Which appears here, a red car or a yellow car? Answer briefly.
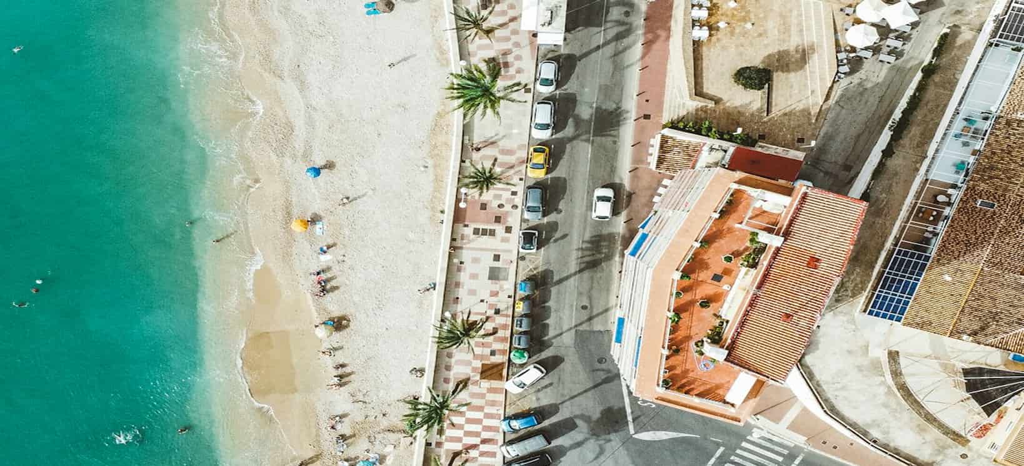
yellow car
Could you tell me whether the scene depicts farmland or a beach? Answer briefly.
beach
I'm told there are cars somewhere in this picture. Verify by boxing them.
[501,413,539,435]
[503,432,549,460]
[536,58,559,94]
[523,184,544,221]
[592,186,615,220]
[508,450,550,466]
[518,229,538,253]
[531,100,553,139]
[527,144,549,179]
[507,361,547,395]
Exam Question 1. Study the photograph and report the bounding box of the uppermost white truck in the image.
[522,0,564,37]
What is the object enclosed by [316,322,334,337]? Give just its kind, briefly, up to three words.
umbrella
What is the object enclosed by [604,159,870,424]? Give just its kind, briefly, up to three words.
building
